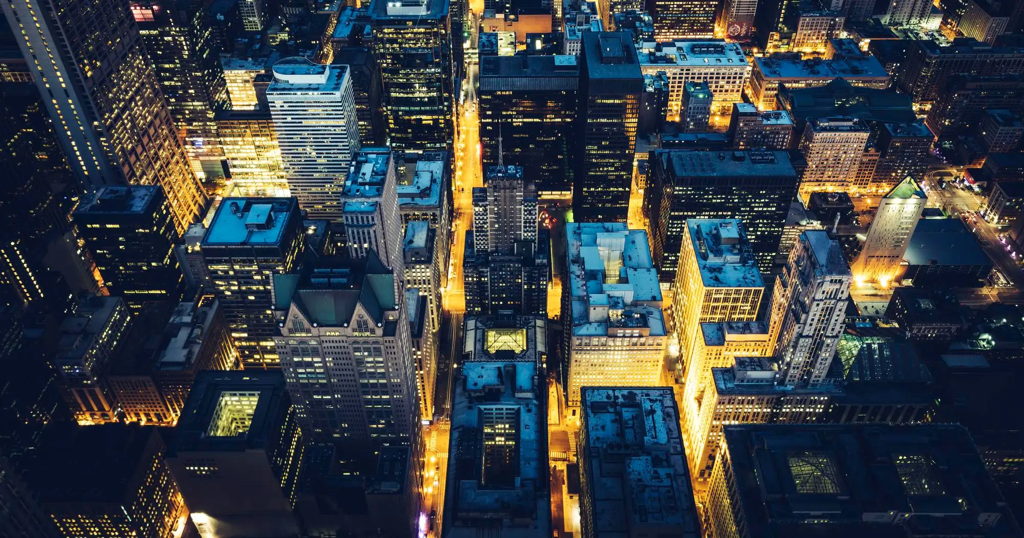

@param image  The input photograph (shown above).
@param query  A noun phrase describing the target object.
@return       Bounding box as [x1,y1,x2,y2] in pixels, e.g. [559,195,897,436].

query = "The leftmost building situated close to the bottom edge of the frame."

[0,425,194,538]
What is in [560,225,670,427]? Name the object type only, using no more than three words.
building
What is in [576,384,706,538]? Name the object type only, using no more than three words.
building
